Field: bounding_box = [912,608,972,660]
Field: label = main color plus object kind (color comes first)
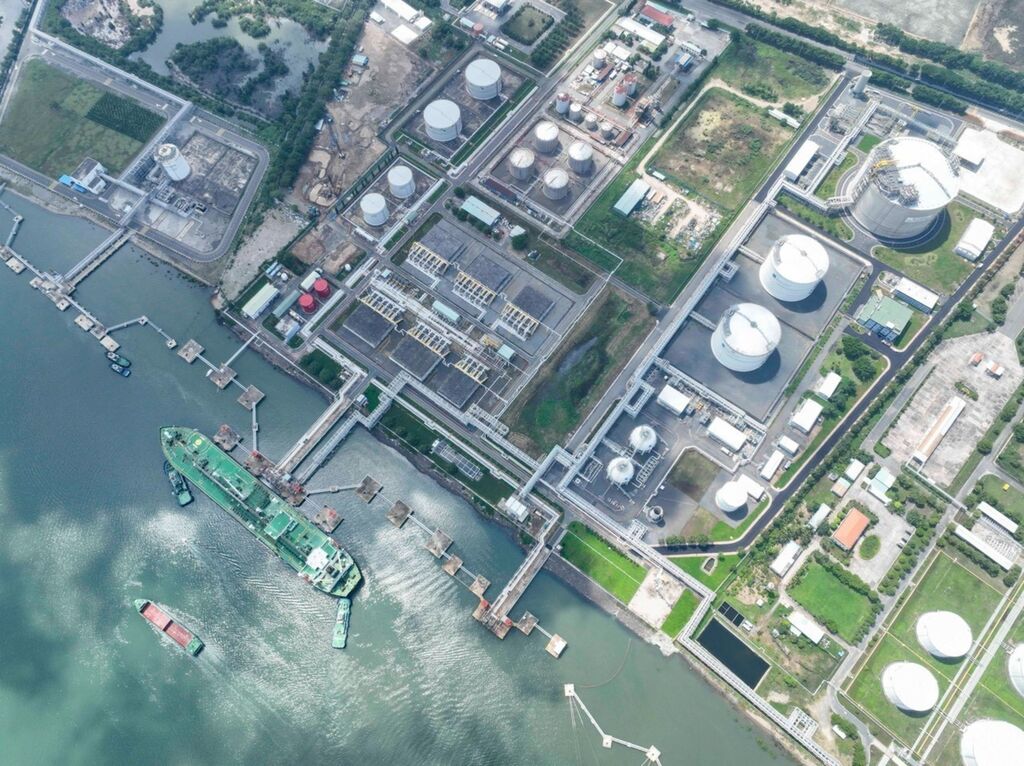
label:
white storage tank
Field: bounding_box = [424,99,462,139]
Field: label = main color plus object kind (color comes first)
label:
white storage tank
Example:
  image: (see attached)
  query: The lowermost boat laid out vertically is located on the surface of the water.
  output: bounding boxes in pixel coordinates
[331,597,352,649]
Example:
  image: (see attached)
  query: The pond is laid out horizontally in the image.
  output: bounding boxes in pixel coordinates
[129,0,328,112]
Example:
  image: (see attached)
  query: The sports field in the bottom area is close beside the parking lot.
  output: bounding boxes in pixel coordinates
[790,565,872,643]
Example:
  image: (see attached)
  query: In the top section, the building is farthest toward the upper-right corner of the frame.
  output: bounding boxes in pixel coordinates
[950,129,988,166]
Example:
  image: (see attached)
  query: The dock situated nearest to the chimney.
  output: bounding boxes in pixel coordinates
[495,517,576,616]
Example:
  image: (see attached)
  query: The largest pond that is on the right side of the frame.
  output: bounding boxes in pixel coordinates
[697,618,770,689]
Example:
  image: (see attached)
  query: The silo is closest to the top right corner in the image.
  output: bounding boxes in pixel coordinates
[849,68,873,98]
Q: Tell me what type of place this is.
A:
industrial area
